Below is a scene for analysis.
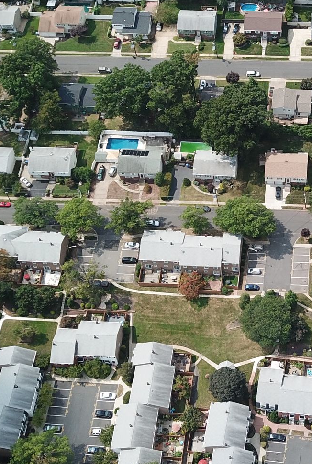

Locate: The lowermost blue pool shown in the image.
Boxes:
[104,137,140,149]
